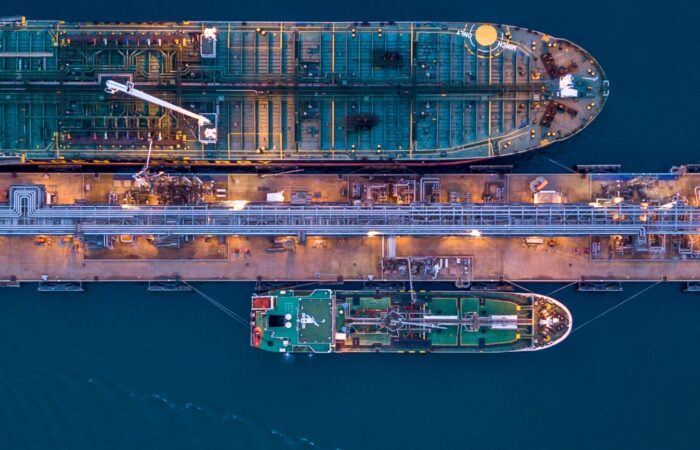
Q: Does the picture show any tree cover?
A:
No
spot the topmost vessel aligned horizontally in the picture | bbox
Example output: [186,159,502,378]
[0,15,610,164]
